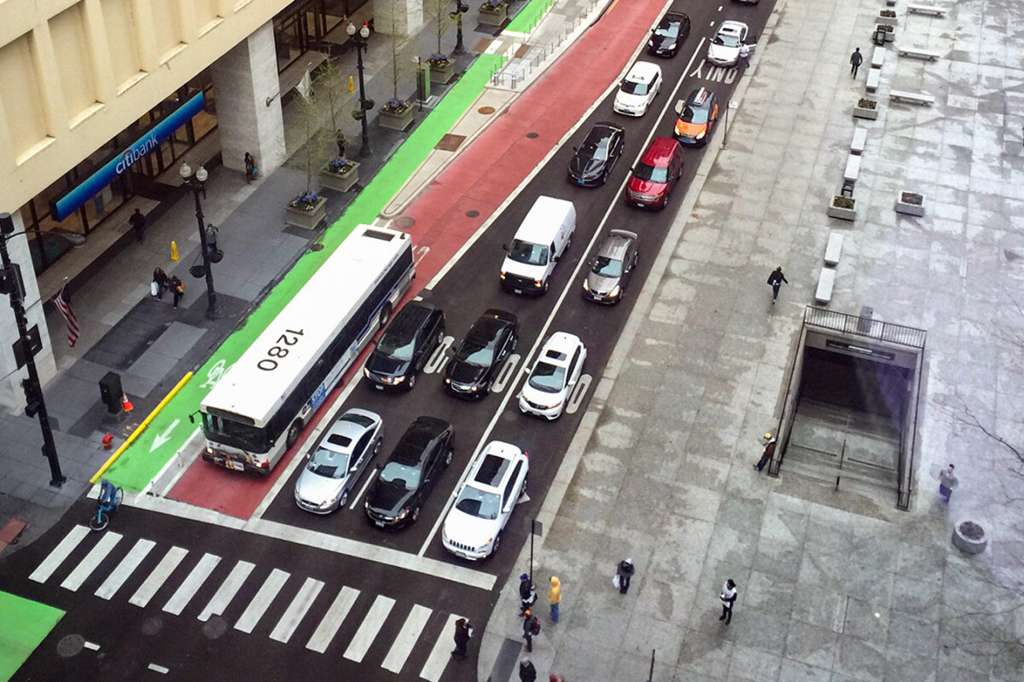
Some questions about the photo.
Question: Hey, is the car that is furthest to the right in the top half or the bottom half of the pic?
top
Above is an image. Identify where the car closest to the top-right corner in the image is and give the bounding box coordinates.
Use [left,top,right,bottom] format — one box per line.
[707,21,761,67]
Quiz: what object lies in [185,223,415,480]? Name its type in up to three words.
bus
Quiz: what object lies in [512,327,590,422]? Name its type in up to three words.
car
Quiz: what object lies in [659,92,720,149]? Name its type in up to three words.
car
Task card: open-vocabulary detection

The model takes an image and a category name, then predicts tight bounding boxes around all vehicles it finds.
[566,125,624,187]
[659,92,720,149]
[436,442,530,565]
[354,414,454,534]
[359,295,448,395]
[185,223,415,480]
[578,227,640,306]
[283,405,382,517]
[494,197,575,298]
[707,21,761,67]
[613,59,661,114]
[512,327,590,422]
[623,137,684,211]
[434,309,516,404]
[644,13,687,56]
